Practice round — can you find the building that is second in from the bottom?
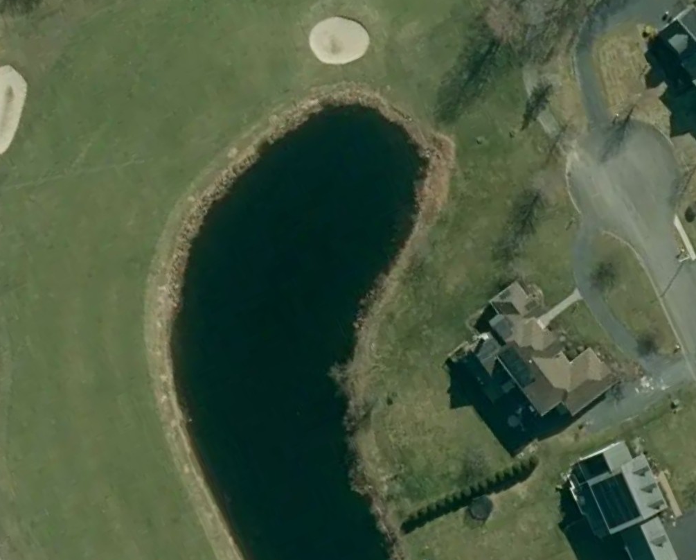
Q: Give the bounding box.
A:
[477,281,620,416]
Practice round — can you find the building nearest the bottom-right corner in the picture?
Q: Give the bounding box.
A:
[568,441,678,560]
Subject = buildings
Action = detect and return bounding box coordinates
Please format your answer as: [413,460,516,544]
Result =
[568,441,678,560]
[477,281,620,416]
[659,3,696,83]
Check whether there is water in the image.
Yes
